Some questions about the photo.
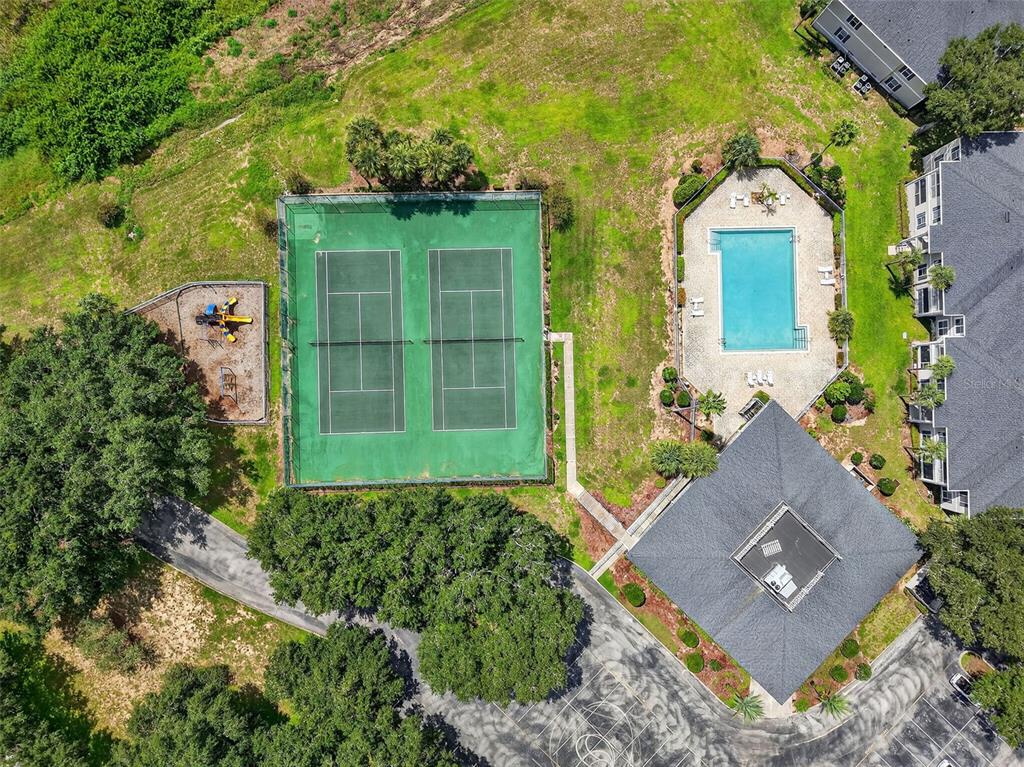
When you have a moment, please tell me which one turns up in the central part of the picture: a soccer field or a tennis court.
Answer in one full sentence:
Visible in the central part of the picture is a tennis court.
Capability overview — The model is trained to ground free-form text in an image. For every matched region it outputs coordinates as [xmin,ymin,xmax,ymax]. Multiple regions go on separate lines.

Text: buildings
[811,0,1020,110]
[626,399,923,705]
[896,131,1024,520]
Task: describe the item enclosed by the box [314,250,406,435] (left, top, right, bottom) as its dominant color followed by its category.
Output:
green tennis court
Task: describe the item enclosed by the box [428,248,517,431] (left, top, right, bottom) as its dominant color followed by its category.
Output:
green tennis court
